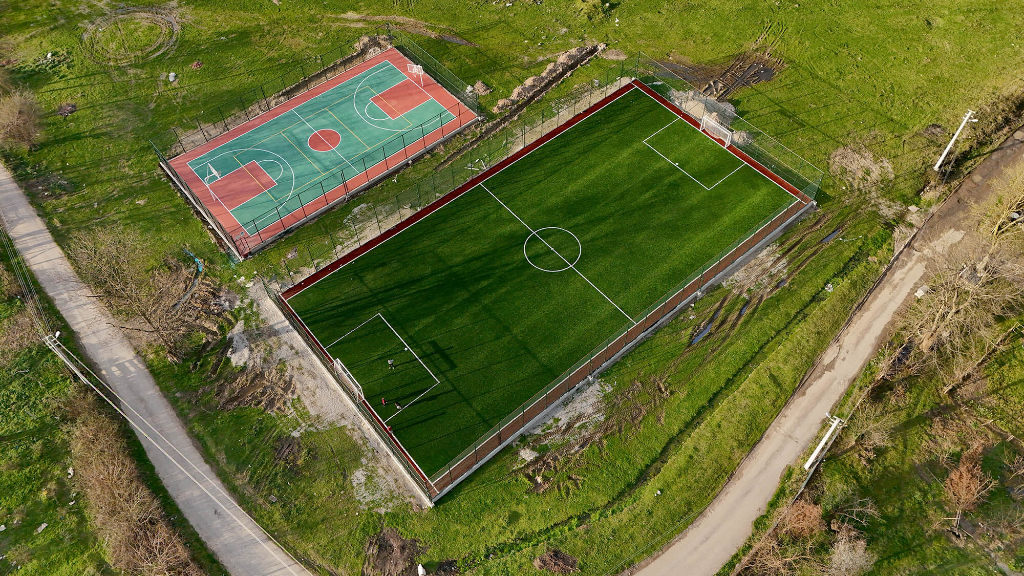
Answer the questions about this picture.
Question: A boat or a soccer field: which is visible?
soccer field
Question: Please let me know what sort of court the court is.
basketball court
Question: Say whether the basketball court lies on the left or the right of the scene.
left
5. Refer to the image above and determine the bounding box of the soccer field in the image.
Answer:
[274,80,813,499]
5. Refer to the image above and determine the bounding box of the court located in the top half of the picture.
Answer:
[168,47,477,254]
